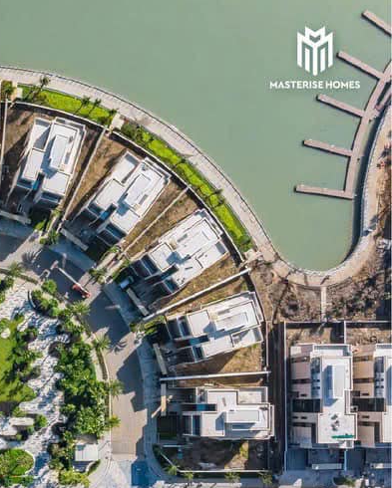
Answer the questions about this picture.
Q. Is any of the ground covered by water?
Yes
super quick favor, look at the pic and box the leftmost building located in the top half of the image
[8,115,88,211]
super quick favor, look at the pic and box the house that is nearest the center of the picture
[123,209,225,300]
